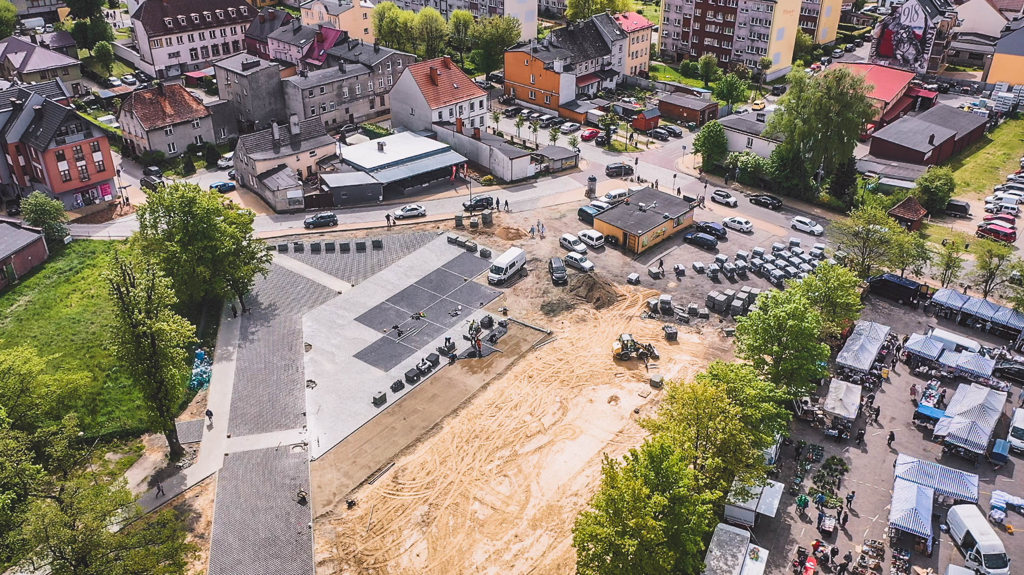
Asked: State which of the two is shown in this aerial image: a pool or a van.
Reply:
van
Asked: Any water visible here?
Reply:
No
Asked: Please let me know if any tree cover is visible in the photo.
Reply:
Yes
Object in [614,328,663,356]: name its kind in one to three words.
work vehicle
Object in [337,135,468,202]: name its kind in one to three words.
building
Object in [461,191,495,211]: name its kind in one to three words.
car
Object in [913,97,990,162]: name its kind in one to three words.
shed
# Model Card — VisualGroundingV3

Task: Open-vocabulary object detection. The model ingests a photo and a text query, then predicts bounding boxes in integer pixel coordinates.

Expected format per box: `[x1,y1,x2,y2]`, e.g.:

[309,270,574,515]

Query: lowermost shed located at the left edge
[0,214,49,282]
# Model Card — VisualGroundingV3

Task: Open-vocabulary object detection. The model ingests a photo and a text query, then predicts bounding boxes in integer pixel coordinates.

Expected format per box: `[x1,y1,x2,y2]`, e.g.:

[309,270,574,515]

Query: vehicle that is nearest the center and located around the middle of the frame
[489,243,524,282]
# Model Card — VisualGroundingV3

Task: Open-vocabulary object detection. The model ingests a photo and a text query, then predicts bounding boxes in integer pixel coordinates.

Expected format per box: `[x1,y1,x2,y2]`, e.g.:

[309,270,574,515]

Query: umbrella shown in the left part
[345,138,371,150]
